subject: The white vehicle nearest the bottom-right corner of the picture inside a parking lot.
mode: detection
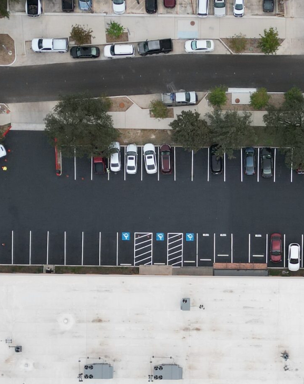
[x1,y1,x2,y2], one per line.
[287,243,302,271]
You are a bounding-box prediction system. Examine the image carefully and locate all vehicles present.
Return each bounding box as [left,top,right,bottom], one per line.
[296,164,304,175]
[25,0,41,19]
[31,37,70,53]
[103,42,135,59]
[107,141,122,172]
[158,143,173,175]
[268,233,283,263]
[125,144,138,175]
[142,143,157,175]
[93,144,106,176]
[138,39,174,55]
[185,39,214,53]
[260,146,273,178]
[210,146,223,176]
[70,44,100,60]
[111,0,126,16]
[287,243,302,271]
[196,0,209,18]
[262,0,275,14]
[232,0,247,19]
[60,0,74,13]
[79,0,92,13]
[243,146,255,176]
[163,0,177,8]
[144,0,157,14]
[161,91,197,106]
[212,0,228,18]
